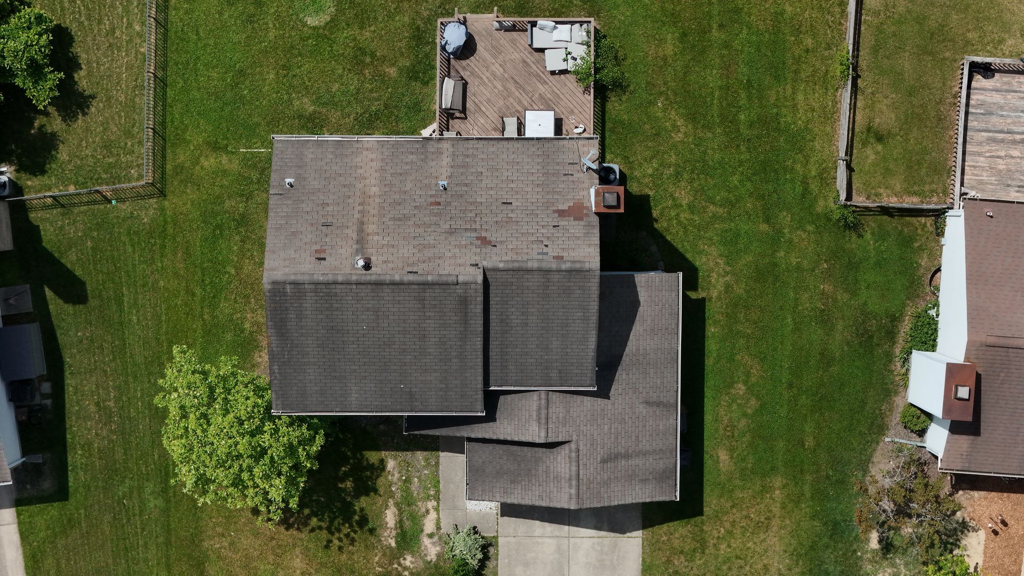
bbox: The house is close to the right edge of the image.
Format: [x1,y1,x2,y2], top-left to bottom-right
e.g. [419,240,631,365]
[909,197,1024,481]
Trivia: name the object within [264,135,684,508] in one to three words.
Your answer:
house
